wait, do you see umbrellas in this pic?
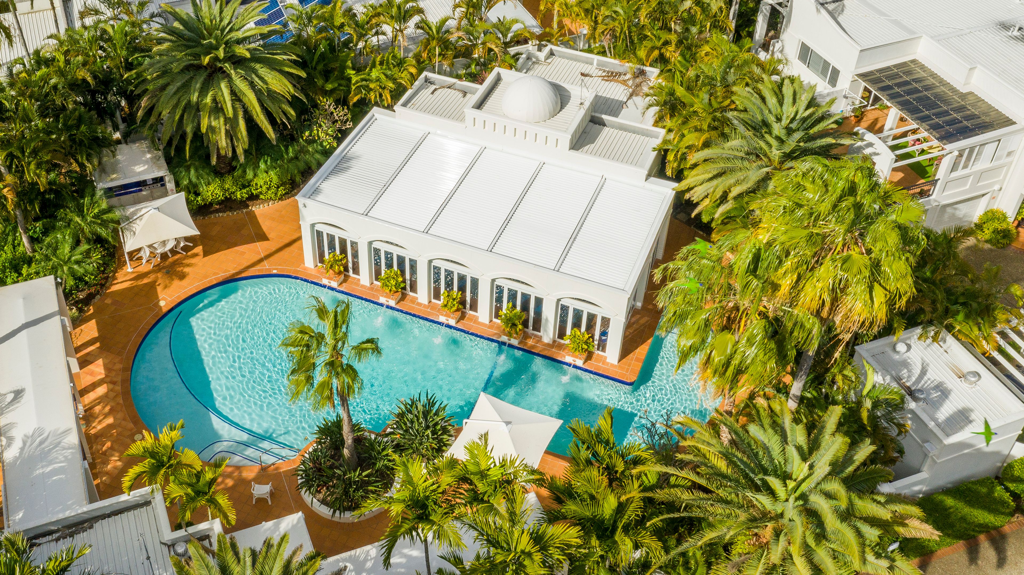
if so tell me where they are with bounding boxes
[111,192,200,273]
[445,392,563,491]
